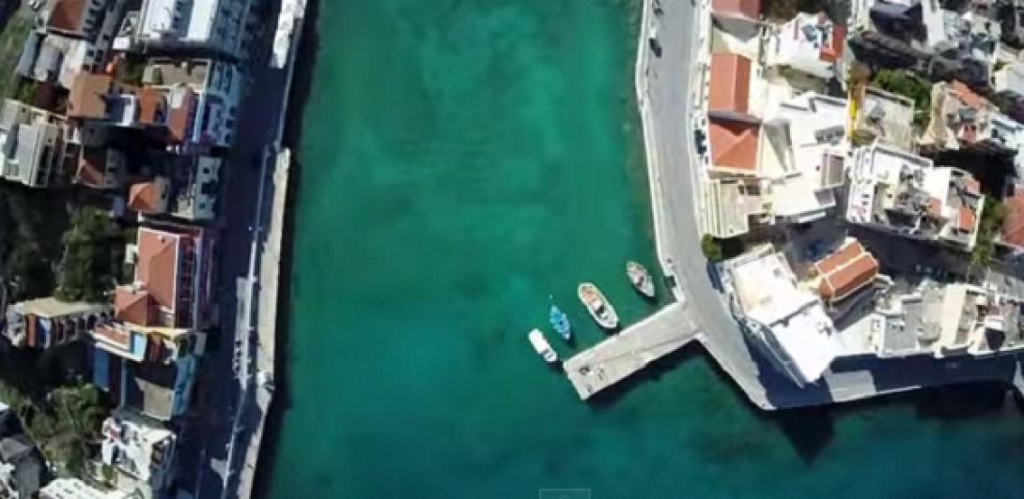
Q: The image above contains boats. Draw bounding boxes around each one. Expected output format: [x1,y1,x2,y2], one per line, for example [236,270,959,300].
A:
[526,326,557,363]
[550,306,569,340]
[629,263,656,299]
[581,284,616,328]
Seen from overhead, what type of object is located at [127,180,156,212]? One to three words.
house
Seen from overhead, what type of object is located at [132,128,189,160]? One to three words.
house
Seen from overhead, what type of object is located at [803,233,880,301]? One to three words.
building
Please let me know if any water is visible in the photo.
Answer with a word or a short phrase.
Yes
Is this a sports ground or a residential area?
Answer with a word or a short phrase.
residential area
